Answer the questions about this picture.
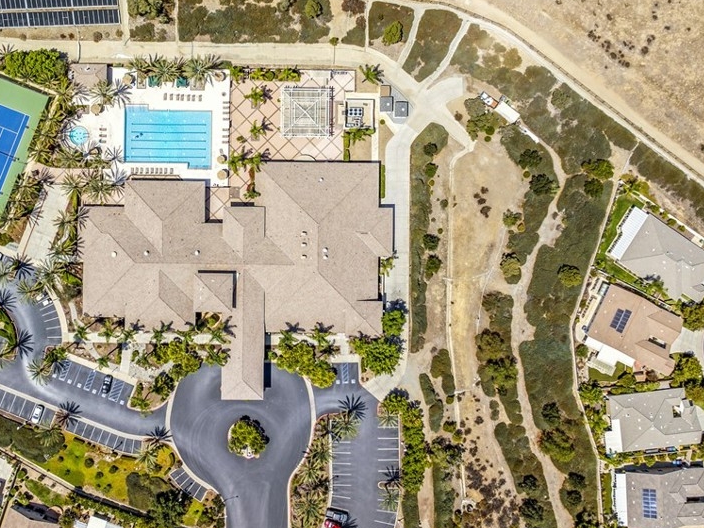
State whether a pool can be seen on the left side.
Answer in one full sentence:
Yes, on the left side there is a pool.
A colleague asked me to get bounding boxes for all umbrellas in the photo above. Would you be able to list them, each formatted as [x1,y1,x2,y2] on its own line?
[91,103,102,115]
[214,71,225,82]
[123,74,133,84]
[217,168,229,180]
[217,154,226,164]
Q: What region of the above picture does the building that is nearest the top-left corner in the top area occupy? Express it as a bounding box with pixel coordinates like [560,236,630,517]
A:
[70,62,107,85]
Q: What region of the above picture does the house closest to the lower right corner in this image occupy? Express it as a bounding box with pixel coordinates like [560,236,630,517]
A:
[610,465,704,528]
